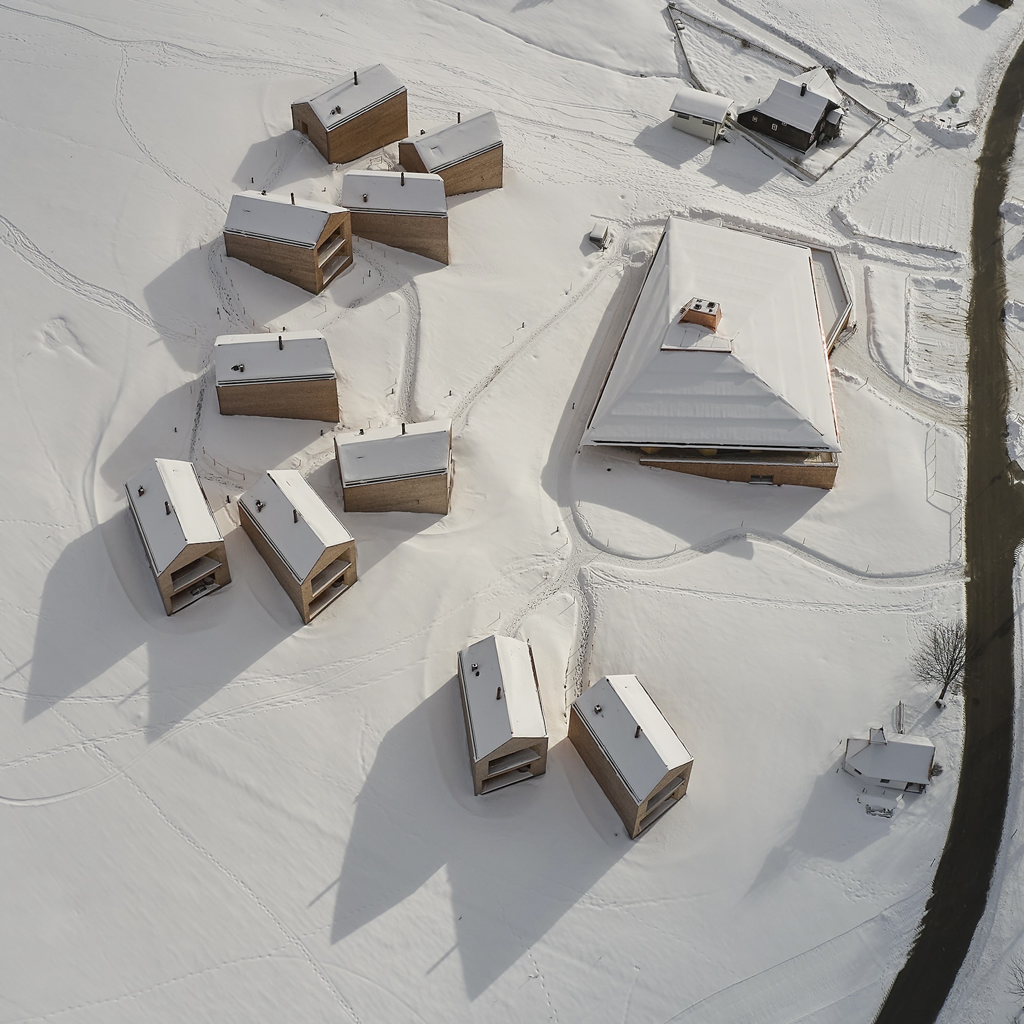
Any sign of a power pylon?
No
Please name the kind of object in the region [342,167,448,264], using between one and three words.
house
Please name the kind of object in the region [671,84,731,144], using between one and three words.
shed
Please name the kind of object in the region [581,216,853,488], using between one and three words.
building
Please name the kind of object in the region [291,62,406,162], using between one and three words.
house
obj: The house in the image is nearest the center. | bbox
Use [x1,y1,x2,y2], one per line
[335,419,451,513]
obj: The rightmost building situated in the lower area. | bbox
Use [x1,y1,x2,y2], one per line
[841,724,935,796]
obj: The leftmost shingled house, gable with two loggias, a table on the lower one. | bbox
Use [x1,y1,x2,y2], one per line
[123,457,231,614]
